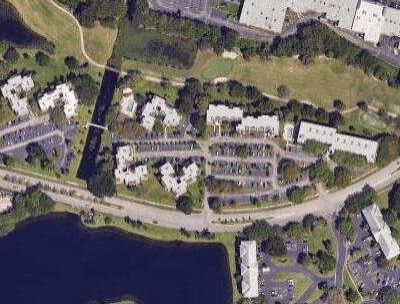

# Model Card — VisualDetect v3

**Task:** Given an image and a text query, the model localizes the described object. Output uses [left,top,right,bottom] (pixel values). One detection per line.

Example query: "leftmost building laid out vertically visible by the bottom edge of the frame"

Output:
[240,239,259,297]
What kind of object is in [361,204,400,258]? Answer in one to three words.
building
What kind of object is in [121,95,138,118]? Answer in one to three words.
swimming pool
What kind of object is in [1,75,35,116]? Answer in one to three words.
building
